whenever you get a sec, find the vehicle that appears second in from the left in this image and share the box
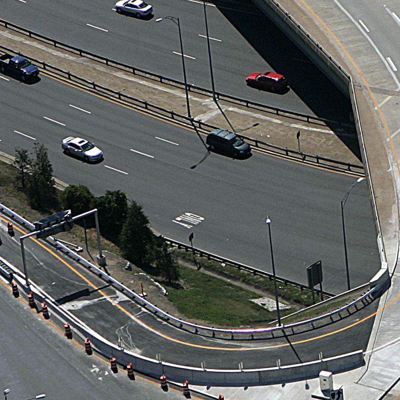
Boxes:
[59,135,106,162]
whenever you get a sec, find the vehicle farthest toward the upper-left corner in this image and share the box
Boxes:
[0,52,44,82]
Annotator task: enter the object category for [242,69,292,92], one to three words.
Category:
car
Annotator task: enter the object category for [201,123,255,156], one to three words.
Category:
car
